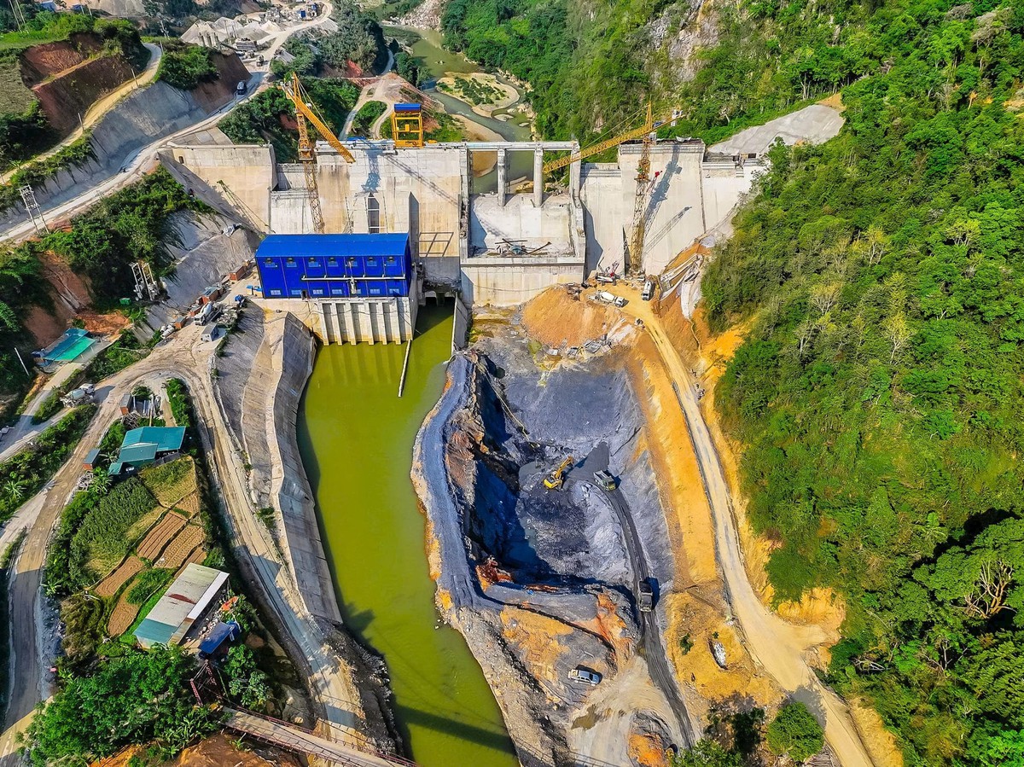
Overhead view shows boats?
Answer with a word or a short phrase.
No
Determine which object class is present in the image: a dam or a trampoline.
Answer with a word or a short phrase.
dam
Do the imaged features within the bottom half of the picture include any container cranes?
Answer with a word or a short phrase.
No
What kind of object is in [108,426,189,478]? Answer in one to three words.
house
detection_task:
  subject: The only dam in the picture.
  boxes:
[151,134,783,320]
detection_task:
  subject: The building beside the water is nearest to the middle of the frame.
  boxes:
[253,234,427,346]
